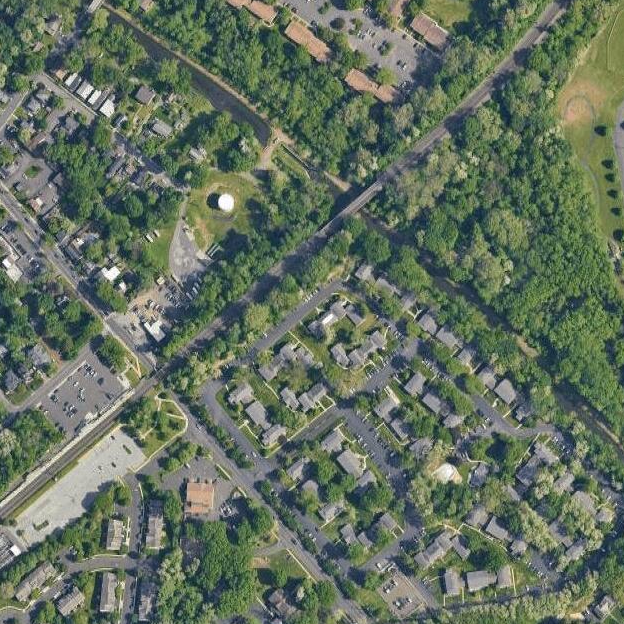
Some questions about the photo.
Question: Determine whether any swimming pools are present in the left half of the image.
No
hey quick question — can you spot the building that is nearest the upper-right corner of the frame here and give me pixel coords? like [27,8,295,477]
[410,14,450,50]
